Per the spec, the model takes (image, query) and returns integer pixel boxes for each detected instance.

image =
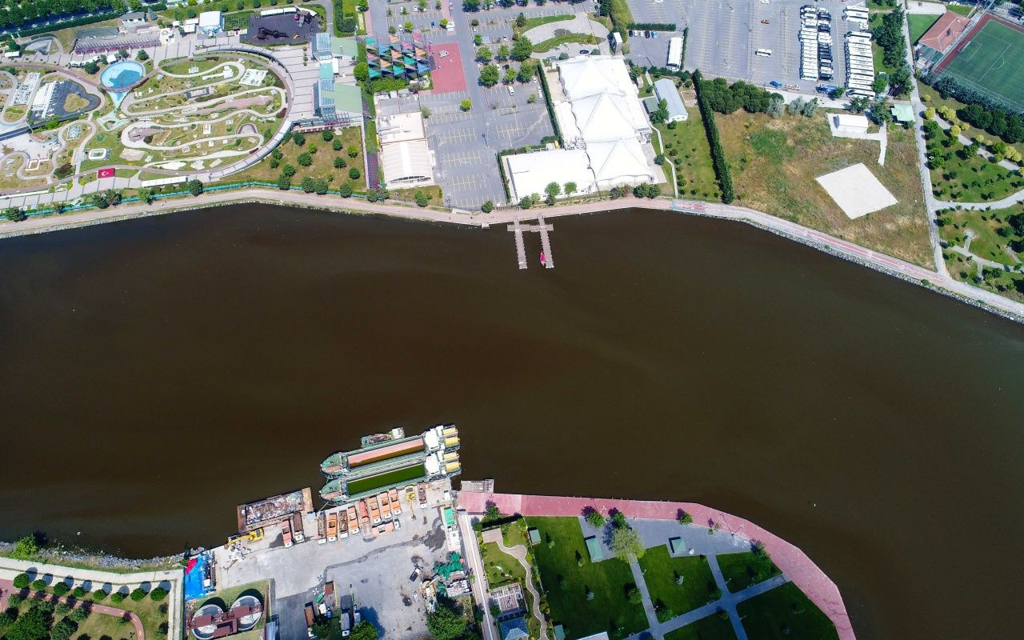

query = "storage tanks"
[224,596,266,633]
[186,604,231,640]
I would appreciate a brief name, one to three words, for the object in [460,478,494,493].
pier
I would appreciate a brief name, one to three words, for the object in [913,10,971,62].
building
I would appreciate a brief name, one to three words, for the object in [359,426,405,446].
boat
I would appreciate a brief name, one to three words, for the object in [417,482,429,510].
vehicle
